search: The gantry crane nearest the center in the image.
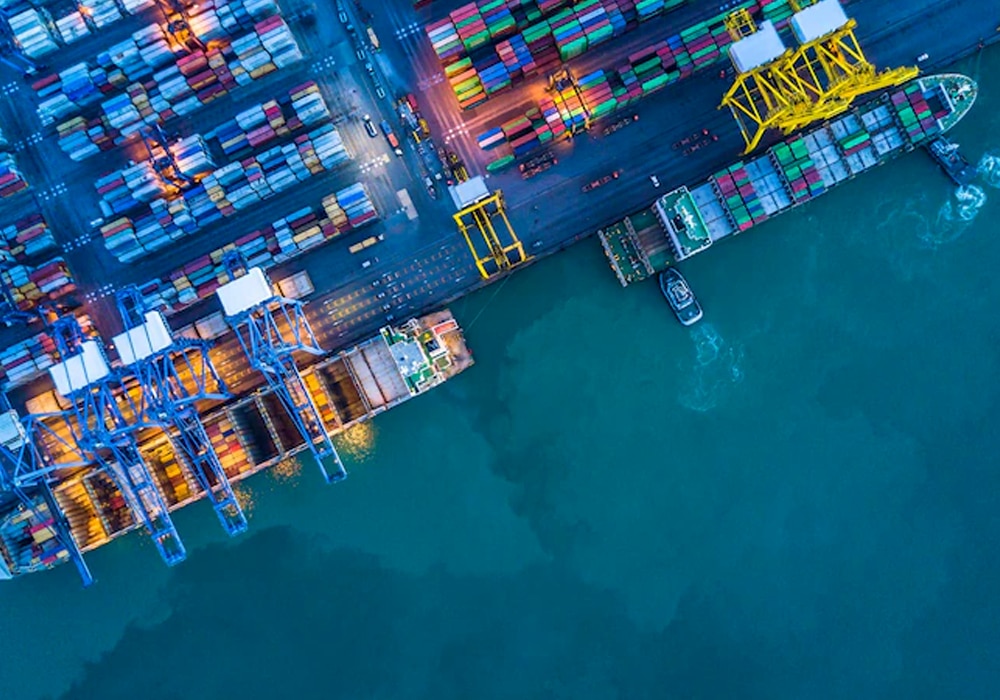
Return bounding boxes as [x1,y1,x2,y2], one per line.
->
[441,146,530,282]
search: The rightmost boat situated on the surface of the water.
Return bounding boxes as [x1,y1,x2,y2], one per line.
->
[927,141,979,189]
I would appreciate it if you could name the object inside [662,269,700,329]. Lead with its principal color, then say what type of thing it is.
blue boat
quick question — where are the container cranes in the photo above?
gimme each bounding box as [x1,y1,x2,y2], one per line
[52,321,188,566]
[154,0,209,62]
[773,0,931,130]
[0,358,123,586]
[138,118,203,192]
[113,292,250,536]
[441,146,530,282]
[715,3,862,157]
[215,246,349,488]
[541,57,593,139]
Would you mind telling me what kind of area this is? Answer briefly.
port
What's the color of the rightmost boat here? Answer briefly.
blue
